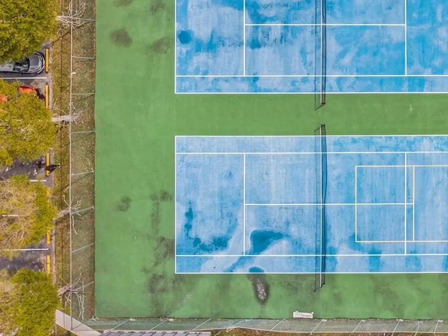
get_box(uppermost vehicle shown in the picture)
[0,52,41,79]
